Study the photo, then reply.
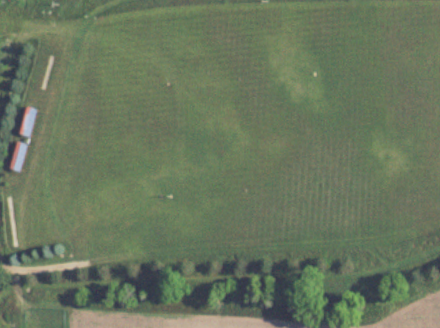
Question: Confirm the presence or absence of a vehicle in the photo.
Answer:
No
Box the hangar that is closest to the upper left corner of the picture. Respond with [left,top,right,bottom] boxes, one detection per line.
[20,108,36,136]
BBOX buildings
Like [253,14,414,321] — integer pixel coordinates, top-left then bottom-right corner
[10,142,26,171]
[20,108,36,136]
